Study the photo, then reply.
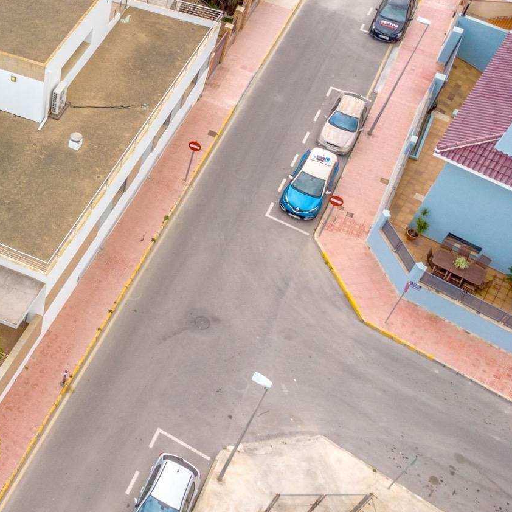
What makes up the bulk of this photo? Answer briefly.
paved ground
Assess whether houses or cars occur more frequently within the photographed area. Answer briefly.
cars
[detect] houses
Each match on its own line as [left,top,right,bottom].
[0,0,224,401]
[408,43,512,277]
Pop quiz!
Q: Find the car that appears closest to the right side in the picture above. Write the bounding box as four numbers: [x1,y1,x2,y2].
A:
[369,0,413,44]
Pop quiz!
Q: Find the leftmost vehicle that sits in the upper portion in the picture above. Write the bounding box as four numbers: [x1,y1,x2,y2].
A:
[277,153,335,225]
